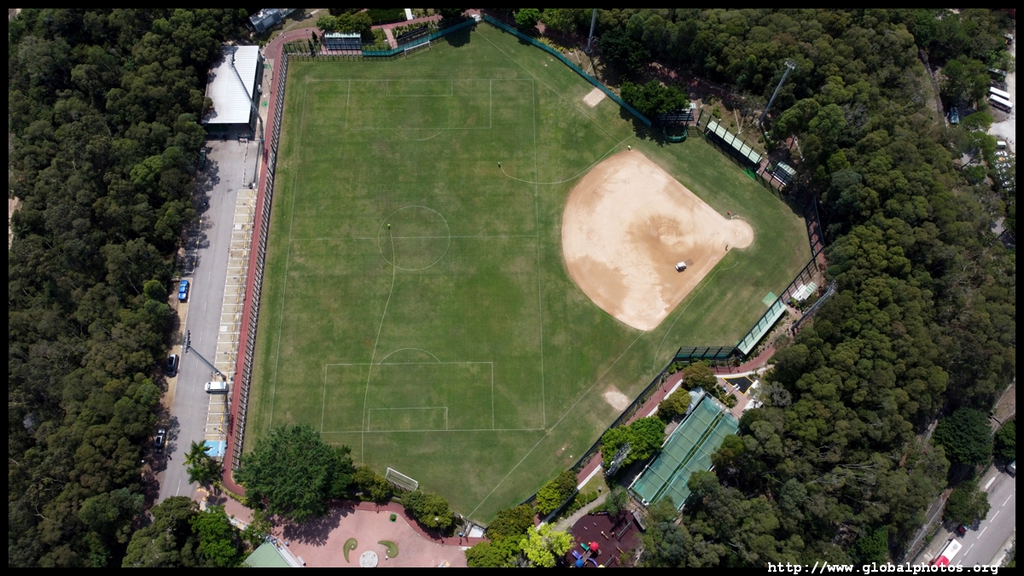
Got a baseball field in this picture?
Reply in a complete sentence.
Yes, you can see a baseball field in this photo.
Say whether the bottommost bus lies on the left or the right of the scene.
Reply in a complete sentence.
You can find the bottommost bus on the right side of the picture.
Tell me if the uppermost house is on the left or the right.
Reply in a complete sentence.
It is on the left.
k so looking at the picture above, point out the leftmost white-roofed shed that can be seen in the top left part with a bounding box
[204,45,263,133]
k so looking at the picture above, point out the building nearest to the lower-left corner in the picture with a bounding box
[241,539,307,576]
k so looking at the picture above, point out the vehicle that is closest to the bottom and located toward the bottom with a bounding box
[919,539,962,576]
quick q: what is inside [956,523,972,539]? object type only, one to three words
car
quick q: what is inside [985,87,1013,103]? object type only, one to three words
vehicle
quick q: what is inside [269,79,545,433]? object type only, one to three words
soccer field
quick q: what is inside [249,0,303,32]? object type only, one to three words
house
